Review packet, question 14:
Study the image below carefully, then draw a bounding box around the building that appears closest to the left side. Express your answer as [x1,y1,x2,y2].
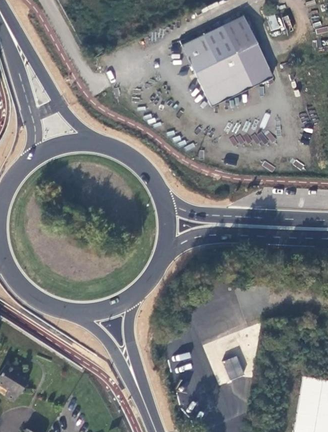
[0,374,24,402]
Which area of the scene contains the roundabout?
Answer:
left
